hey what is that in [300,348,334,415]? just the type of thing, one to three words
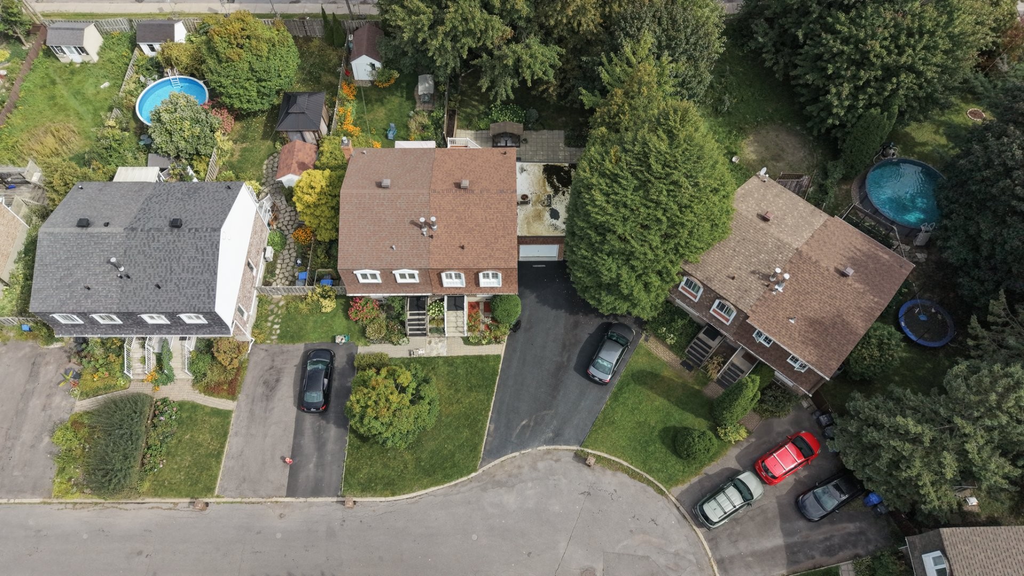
car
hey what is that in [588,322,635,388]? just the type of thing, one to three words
car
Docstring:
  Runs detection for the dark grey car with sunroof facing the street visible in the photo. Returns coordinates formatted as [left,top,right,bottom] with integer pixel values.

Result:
[792,470,870,523]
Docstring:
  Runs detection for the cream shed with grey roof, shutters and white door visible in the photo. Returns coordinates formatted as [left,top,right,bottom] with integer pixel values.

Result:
[46,25,100,63]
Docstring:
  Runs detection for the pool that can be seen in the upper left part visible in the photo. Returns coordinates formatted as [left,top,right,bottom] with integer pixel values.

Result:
[136,75,213,136]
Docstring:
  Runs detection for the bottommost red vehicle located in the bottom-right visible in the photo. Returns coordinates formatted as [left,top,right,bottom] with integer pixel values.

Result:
[754,432,821,486]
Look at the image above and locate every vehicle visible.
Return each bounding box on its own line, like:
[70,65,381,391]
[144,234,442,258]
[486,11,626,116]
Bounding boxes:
[792,470,870,523]
[693,470,767,532]
[588,322,635,388]
[300,348,334,415]
[754,432,821,486]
